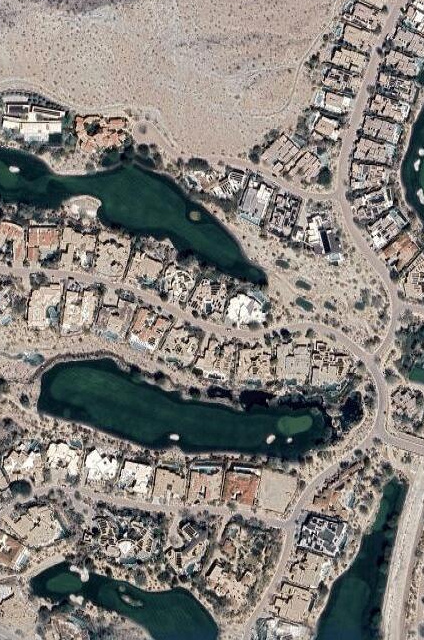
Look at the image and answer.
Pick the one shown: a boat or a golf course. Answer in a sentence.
The image shows a golf course.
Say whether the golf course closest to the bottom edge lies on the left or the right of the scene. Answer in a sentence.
The golf course closest to the bottom edge is on the left side of the image.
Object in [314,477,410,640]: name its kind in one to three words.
golf course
